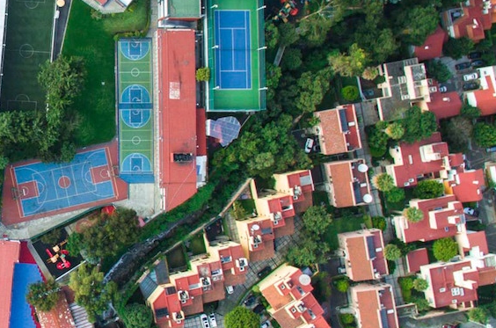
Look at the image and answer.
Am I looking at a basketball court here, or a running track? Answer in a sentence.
The image shows a basketball court.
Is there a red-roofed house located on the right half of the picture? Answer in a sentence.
Yes, there is a red-roofed house on the right half of the picture.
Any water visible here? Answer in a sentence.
No, water can't be seen anywhere here.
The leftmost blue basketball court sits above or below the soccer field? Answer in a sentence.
Within the scene, the leftmost blue basketball court can be found below the soccer field.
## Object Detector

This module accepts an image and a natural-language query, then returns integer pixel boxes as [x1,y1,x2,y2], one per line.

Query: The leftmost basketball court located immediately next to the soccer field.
[1,139,130,228]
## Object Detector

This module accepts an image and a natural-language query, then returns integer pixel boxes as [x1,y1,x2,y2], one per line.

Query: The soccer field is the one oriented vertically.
[0,0,57,112]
